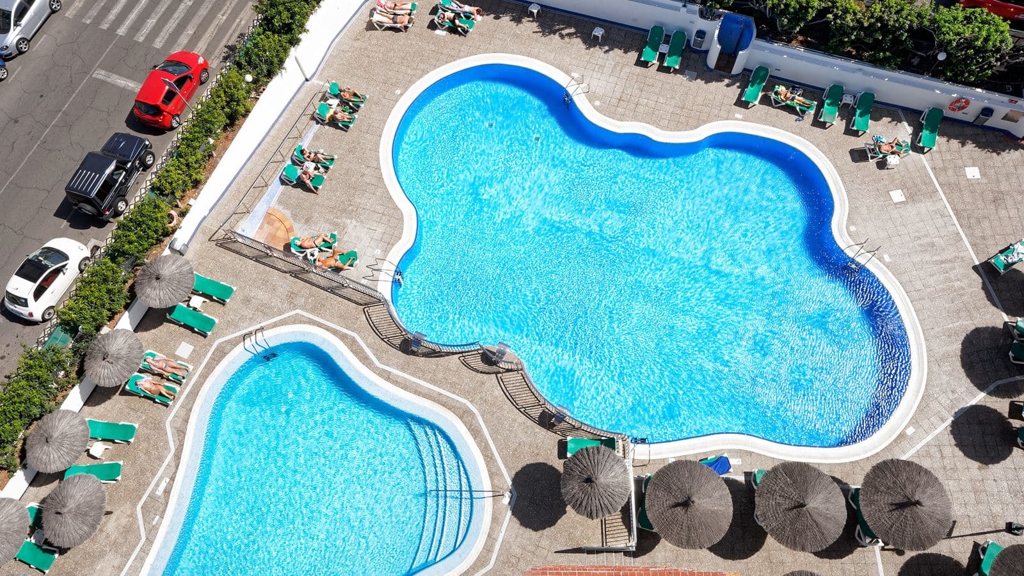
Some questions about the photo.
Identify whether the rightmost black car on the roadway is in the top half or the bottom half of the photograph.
top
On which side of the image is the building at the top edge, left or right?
right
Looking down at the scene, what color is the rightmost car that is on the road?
red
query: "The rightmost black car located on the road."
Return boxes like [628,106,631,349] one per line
[64,136,154,215]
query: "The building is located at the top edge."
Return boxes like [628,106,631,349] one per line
[708,9,762,78]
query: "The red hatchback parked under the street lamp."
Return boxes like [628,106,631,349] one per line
[128,52,209,133]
